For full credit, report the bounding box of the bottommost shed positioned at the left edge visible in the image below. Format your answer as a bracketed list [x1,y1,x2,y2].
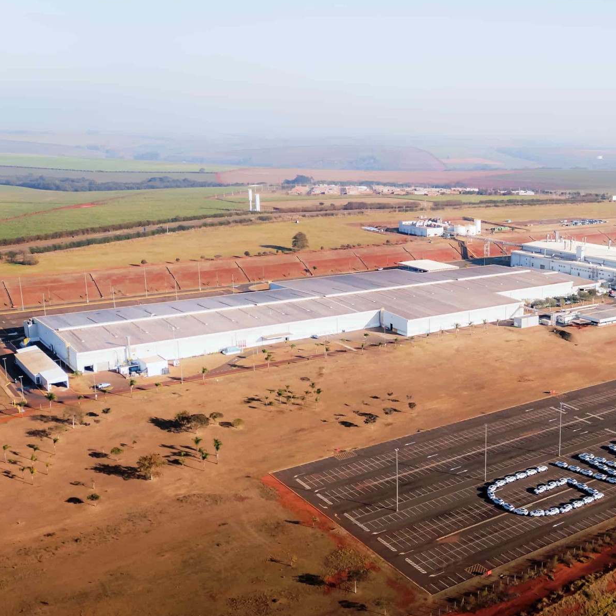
[14,346,70,392]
